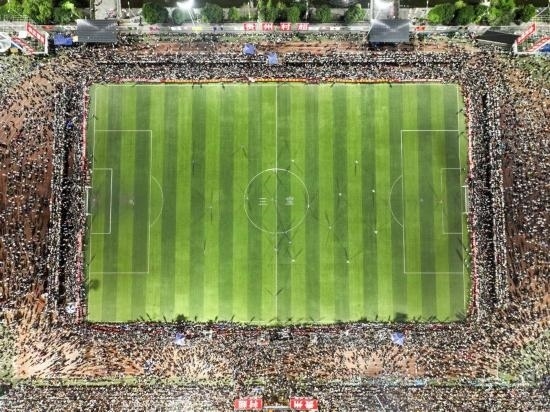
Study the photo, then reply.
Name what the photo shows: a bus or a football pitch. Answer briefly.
football pitch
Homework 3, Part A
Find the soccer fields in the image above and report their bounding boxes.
[82,80,472,325]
